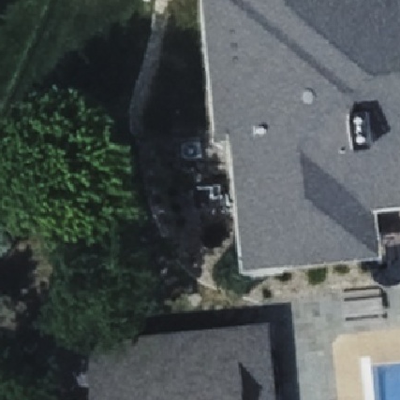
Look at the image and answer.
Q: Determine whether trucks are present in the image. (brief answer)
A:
No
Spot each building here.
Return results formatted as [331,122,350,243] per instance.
[84,323,276,400]
[198,0,400,275]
